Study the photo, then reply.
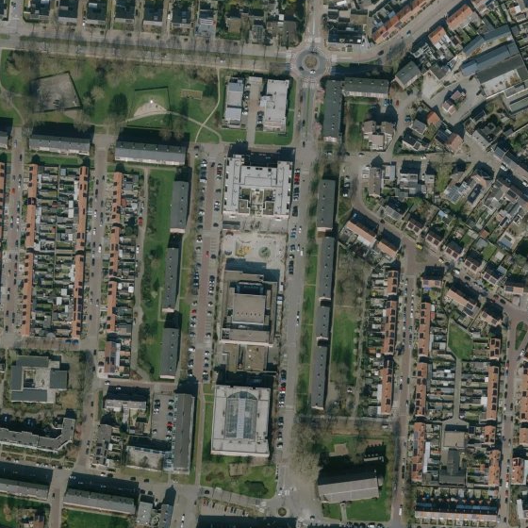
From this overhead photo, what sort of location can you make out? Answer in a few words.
residential area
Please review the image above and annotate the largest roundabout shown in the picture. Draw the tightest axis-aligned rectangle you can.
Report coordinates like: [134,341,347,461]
[290,41,332,81]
